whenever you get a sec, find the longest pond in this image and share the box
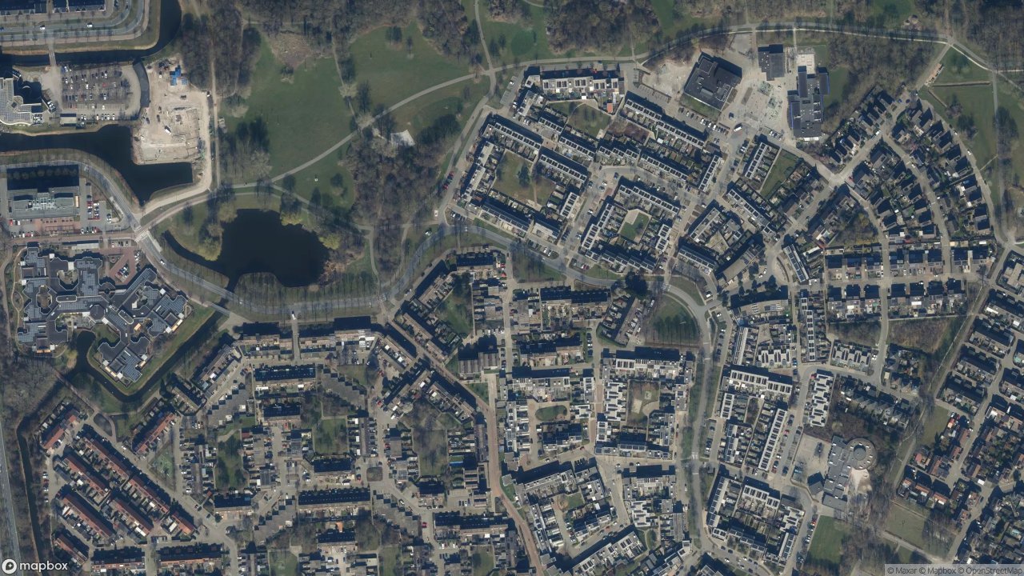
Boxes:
[164,209,329,291]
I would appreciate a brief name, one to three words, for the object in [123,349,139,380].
solar array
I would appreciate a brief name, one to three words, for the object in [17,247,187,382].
house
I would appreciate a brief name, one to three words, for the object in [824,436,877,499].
building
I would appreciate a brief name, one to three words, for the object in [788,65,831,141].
building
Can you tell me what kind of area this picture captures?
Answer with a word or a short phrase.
residential area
